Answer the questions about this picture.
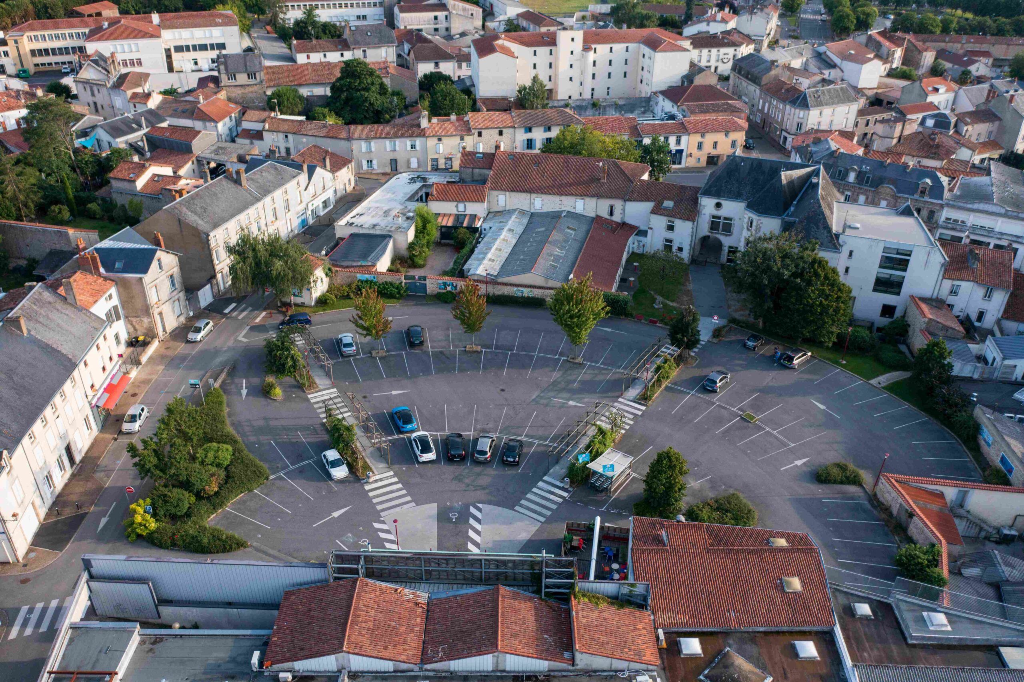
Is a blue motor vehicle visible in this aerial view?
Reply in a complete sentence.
Yes, a blue motor vehicle appears in the view.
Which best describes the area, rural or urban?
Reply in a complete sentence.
From above, the setting appears urban.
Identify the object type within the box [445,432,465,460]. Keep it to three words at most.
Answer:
car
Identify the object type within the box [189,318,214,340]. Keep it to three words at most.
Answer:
car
